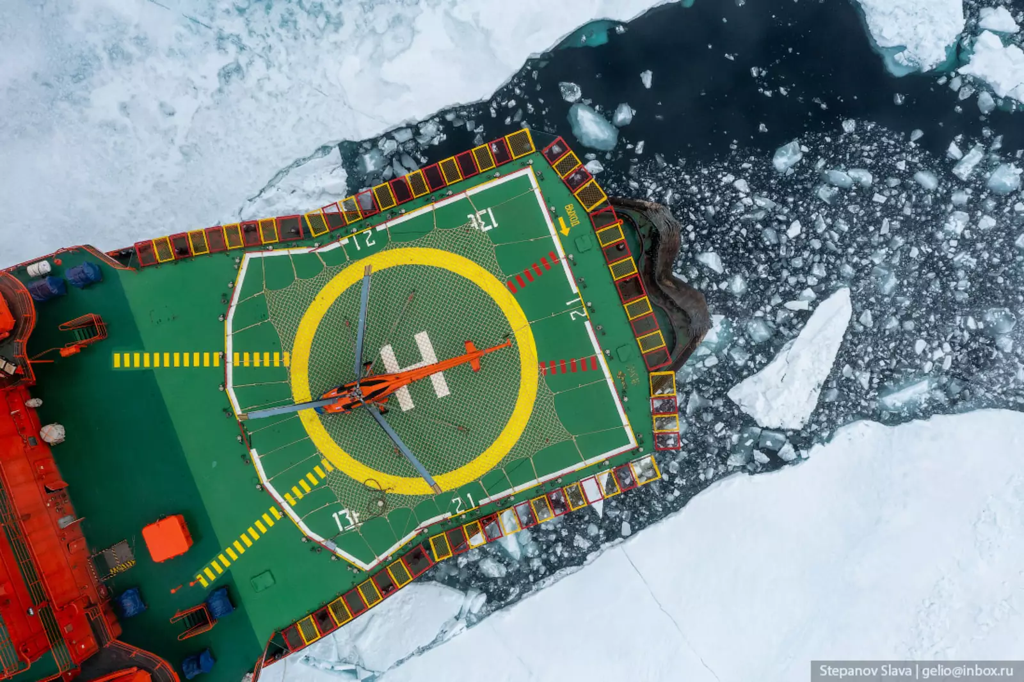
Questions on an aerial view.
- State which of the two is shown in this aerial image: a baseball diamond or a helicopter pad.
helicopter pad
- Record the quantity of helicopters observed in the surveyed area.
1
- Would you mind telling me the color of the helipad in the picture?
green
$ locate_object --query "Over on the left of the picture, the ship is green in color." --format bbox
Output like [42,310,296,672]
[0,150,714,682]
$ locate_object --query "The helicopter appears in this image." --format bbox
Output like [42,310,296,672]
[239,266,526,493]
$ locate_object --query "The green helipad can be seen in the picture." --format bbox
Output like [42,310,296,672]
[114,128,680,653]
